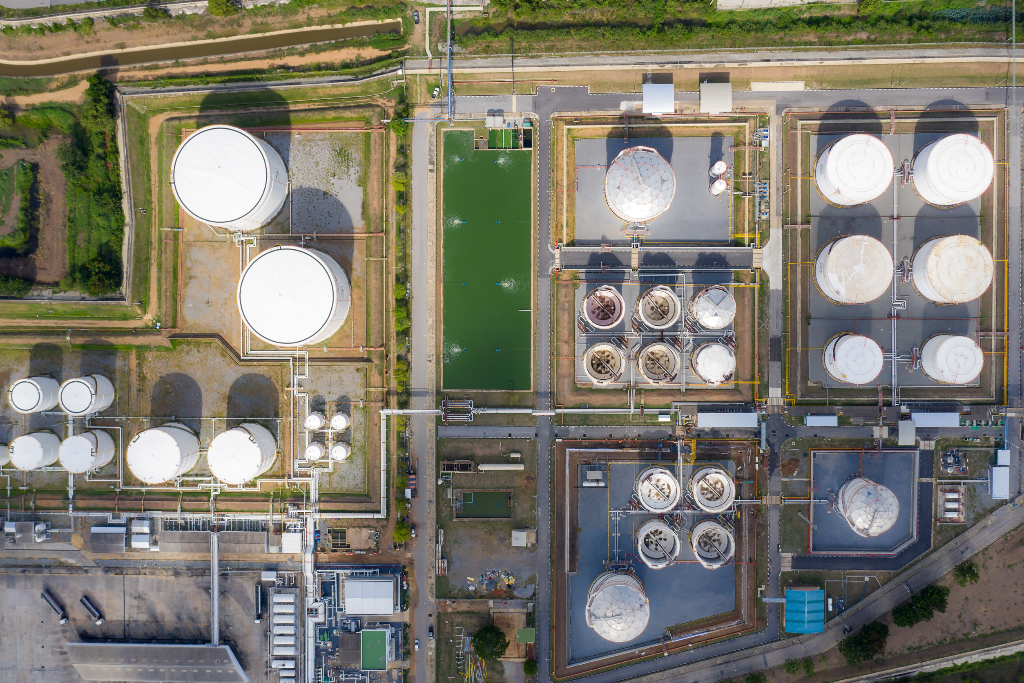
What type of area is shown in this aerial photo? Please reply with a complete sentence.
What you see here is an industrial area.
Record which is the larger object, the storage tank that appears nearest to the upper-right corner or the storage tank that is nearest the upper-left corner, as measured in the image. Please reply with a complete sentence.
The larger object is the storage tank that is nearest the upper-left corner, with the storage tank that appears nearest to the upper-right corner being the smaller of the pair.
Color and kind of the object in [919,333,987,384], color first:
white storage tank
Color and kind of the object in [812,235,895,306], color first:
white storage tank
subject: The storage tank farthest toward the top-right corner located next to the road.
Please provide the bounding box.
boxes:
[910,134,997,210]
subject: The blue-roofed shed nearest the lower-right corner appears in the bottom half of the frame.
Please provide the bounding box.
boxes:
[782,586,824,634]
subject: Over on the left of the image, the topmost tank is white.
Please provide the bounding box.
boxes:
[169,122,291,235]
